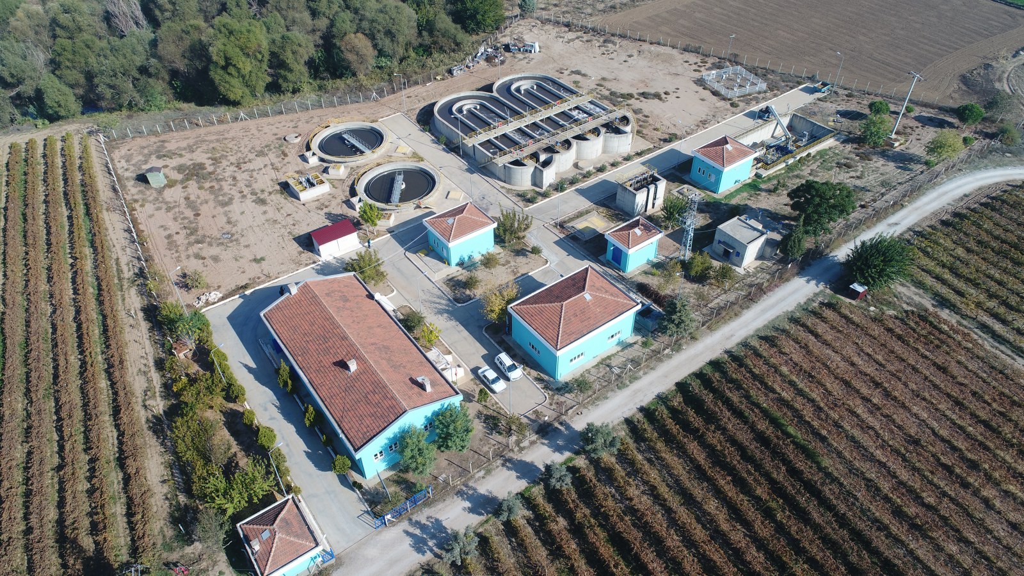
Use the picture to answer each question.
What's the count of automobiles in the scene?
2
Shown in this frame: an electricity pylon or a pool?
electricity pylon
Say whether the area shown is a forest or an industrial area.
industrial area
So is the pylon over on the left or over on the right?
right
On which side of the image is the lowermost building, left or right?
left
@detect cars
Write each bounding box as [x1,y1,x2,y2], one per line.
[481,366,510,394]
[495,349,522,379]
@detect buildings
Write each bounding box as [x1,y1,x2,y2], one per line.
[237,493,323,576]
[602,216,667,275]
[140,169,164,188]
[259,272,462,476]
[688,134,760,193]
[712,212,773,265]
[423,201,497,266]
[846,280,872,303]
[507,265,642,380]
[310,219,357,256]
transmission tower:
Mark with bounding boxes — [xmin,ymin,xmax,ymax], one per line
[680,193,712,261]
